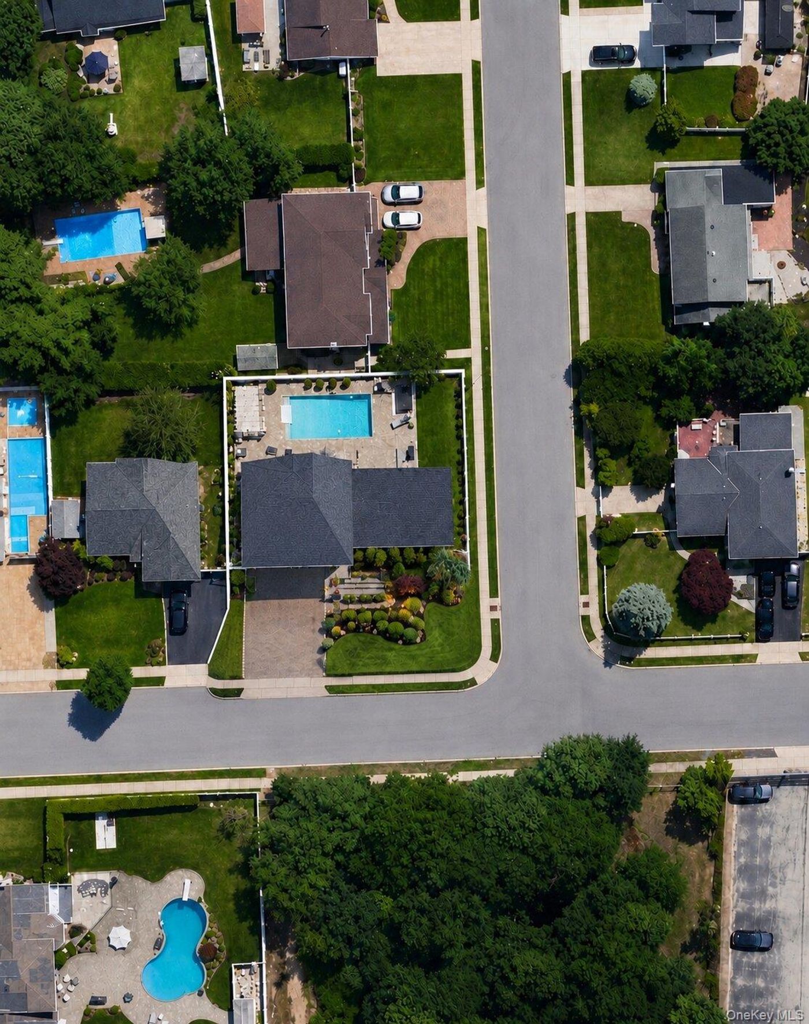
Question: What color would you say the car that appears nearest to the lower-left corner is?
black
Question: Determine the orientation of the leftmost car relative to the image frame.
from top to bottom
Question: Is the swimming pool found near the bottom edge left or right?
left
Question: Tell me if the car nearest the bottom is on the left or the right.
right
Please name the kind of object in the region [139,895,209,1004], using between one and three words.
swimming pool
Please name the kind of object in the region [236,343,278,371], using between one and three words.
shed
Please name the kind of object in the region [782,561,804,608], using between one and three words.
car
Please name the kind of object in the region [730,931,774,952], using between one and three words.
car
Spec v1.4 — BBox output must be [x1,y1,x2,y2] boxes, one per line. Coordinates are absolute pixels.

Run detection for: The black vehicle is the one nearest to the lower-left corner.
[167,588,189,634]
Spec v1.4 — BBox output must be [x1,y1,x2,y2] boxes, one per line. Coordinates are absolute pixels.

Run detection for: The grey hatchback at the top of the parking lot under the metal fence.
[729,783,774,805]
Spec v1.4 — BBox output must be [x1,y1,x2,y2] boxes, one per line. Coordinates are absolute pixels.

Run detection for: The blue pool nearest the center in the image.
[281,392,375,441]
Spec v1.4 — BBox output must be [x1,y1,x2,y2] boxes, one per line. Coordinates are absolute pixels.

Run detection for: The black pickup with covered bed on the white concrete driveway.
[591,42,637,64]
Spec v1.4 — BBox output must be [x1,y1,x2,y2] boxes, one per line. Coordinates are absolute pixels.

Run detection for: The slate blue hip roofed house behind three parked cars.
[665,412,803,560]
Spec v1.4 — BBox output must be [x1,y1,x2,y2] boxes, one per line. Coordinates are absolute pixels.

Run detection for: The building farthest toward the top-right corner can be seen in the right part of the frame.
[765,0,795,50]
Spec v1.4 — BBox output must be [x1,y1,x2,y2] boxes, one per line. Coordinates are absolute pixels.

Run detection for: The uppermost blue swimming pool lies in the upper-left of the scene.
[52,206,148,265]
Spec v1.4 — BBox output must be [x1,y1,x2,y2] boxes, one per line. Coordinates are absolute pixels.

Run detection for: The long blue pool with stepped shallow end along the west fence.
[6,436,47,555]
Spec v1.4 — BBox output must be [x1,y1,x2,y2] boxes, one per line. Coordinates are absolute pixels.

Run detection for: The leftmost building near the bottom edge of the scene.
[0,882,73,1024]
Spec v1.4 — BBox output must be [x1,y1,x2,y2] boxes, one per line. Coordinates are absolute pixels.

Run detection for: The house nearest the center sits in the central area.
[240,452,454,568]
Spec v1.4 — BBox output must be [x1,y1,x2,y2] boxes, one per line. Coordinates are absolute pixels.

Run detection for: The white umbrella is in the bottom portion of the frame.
[108,925,131,948]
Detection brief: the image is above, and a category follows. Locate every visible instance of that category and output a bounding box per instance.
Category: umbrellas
[84,51,109,75]
[108,925,131,948]
[381,380,392,392]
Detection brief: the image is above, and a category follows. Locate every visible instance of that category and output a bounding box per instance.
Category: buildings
[38,0,193,37]
[651,0,745,49]
[232,998,256,1024]
[0,882,73,1024]
[765,0,795,50]
[243,192,390,350]
[236,343,278,371]
[235,0,265,34]
[665,164,776,329]
[665,412,803,560]
[240,452,454,568]
[51,500,80,539]
[85,457,201,582]
[285,0,379,61]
